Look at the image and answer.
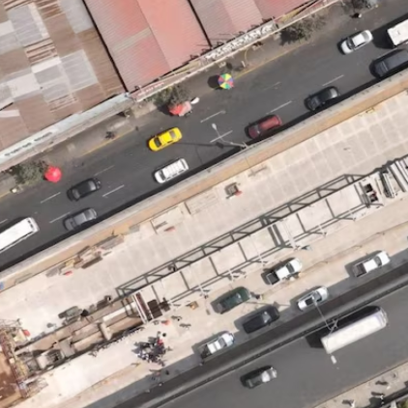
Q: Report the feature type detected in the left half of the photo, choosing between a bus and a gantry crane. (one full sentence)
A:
Looking in the left half of the photo, you will find a bus.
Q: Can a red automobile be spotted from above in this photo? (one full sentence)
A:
Yes, a red automobile can be made out from above.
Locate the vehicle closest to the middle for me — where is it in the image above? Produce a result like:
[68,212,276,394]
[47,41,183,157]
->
[152,157,190,183]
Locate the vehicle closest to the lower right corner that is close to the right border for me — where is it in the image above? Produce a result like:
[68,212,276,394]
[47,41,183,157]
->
[318,303,390,354]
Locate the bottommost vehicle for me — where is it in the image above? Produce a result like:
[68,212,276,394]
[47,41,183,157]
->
[242,363,279,390]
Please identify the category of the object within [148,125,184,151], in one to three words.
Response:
car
